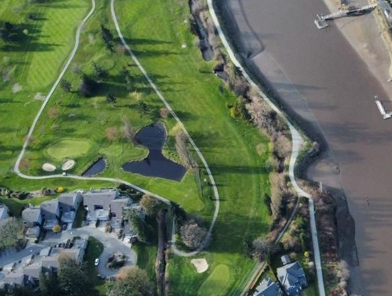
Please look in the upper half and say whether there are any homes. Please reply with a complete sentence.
No, there is no home in the upper half.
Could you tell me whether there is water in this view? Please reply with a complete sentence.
Yes, water can be seen from above here.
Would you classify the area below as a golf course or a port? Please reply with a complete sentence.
The area seen from above is a golf course.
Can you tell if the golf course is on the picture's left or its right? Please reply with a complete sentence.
It is on the left.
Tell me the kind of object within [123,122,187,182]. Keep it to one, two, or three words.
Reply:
pond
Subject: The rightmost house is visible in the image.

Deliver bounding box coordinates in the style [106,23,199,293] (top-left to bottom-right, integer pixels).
[280,265,305,291]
